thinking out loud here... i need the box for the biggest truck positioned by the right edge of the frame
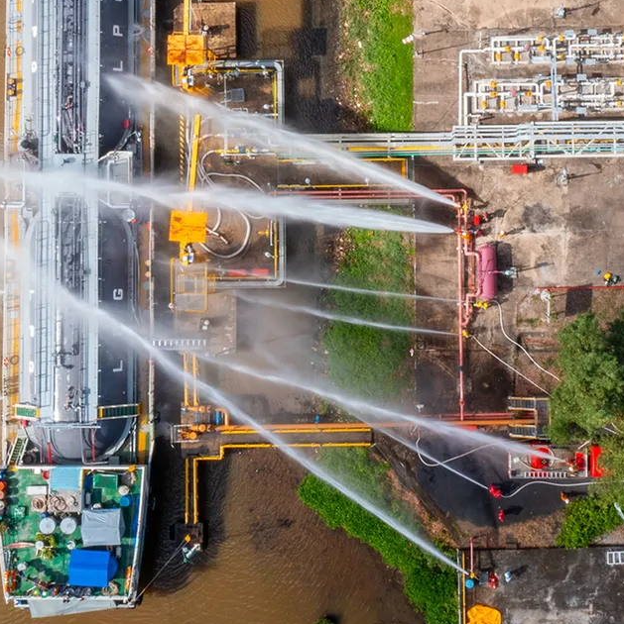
[509,440,605,479]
